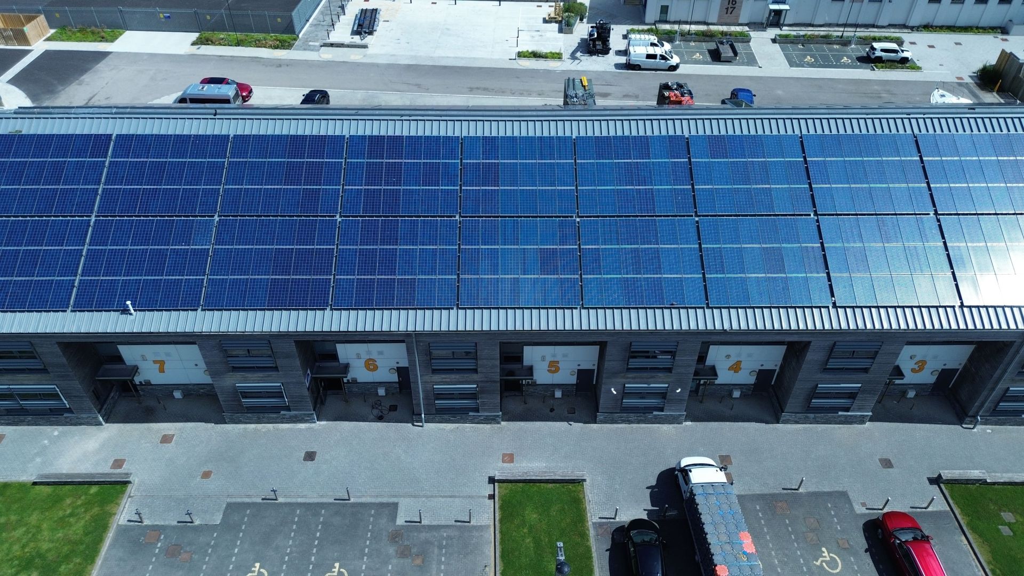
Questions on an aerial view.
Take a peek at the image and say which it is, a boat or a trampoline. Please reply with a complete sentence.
The one in the frame is a boat.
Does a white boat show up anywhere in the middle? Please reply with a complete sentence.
No, no white boat is visible in the middle.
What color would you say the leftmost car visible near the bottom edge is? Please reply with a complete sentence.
The leftmost car visible near the bottom edge is black.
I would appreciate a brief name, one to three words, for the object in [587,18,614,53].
work vehicle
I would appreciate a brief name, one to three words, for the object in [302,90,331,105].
car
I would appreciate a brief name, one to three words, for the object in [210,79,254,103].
car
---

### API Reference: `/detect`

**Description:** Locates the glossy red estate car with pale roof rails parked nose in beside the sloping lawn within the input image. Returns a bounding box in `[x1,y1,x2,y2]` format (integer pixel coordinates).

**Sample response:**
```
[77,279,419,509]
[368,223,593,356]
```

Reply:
[876,509,954,576]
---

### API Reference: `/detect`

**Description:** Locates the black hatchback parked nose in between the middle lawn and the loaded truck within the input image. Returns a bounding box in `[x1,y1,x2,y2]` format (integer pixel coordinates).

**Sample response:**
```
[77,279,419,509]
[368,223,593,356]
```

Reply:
[622,517,673,576]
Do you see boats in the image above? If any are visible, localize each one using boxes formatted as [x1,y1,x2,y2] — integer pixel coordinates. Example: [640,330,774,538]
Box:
[923,81,980,106]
